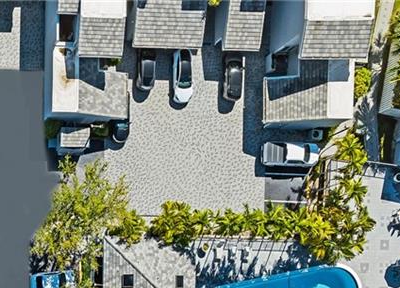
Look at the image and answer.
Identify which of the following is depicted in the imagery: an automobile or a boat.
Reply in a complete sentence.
I can see an automobile in this picture.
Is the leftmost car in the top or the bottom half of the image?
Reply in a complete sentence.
It is in the bottom half that the leftmost car appears.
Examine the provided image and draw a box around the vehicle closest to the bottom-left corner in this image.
[29,268,76,288]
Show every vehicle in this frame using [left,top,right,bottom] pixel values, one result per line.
[170,48,196,106]
[219,53,245,102]
[29,268,76,288]
[134,48,159,95]
[258,136,322,168]
[108,101,132,147]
